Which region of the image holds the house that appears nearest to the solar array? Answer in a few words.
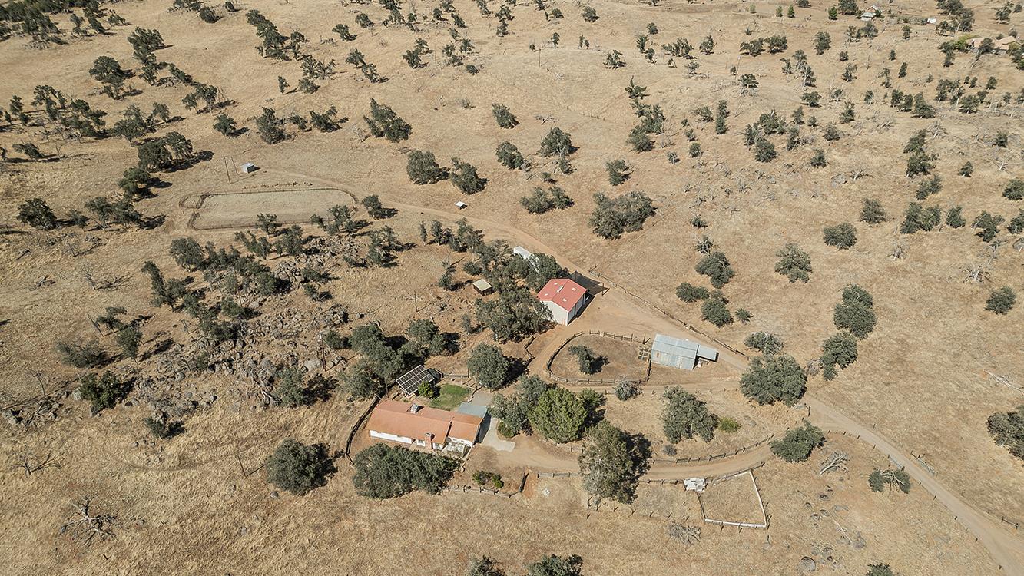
bottom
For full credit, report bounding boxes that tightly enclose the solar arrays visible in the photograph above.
[396,365,433,396]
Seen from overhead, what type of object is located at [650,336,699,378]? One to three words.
shed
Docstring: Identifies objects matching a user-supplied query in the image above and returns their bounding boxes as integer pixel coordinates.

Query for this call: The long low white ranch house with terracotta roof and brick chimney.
[367,400,488,450]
